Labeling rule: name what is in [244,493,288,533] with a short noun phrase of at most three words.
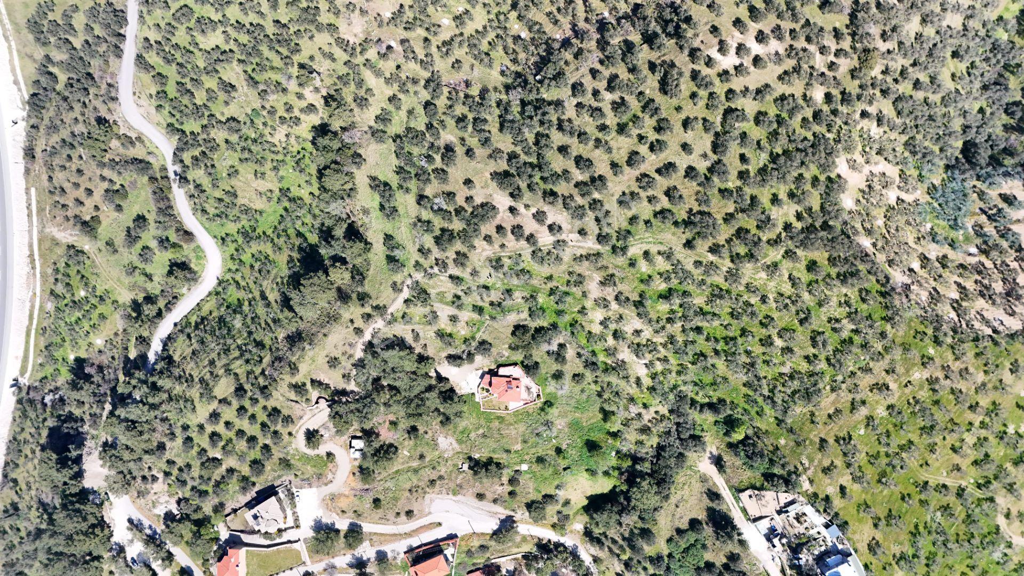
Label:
house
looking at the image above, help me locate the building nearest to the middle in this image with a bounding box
[481,374,521,402]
